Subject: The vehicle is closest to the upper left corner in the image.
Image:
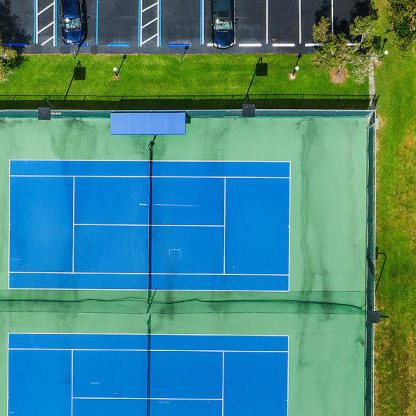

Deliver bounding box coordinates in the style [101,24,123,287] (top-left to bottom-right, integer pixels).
[58,0,85,45]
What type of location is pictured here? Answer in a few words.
sports ground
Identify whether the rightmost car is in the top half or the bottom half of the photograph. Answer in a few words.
top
